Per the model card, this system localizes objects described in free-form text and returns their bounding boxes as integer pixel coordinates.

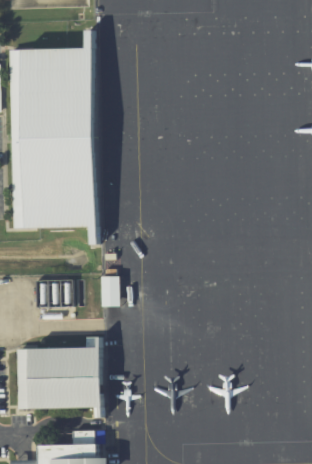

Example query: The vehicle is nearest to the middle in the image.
[128,241,146,258]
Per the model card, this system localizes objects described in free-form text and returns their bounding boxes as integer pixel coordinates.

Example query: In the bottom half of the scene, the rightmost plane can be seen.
[206,376,248,414]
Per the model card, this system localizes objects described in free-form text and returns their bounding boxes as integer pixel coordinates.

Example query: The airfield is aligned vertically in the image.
[96,0,312,464]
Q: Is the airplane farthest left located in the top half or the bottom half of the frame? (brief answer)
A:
bottom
